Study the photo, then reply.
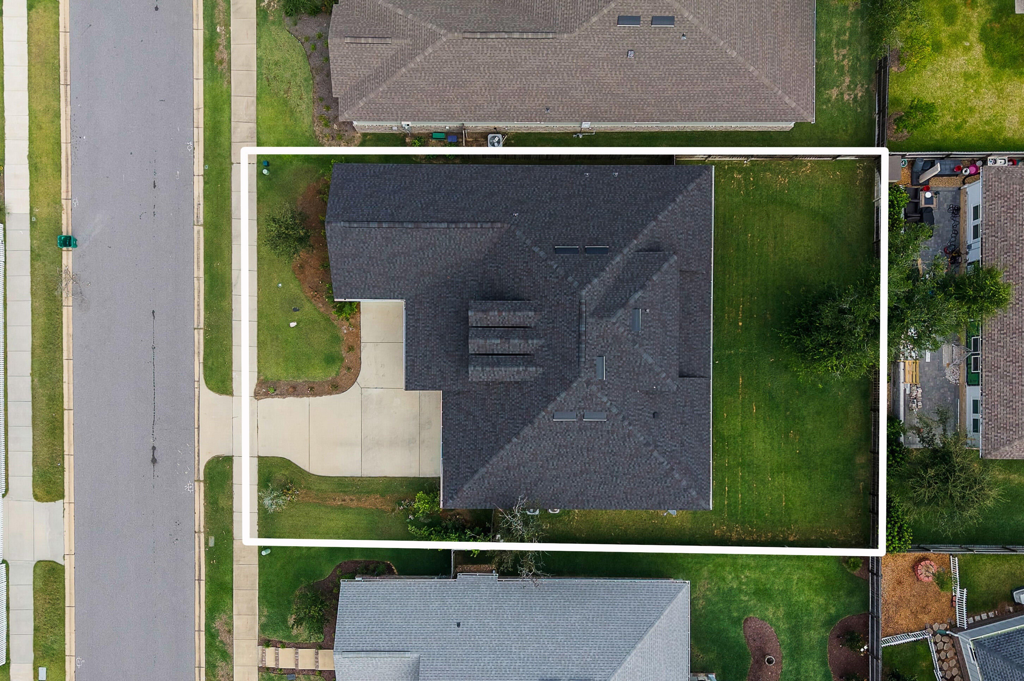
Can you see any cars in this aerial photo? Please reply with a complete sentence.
No, no car is visible in the view.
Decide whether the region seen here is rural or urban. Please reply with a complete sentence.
From above, the setting appears urban.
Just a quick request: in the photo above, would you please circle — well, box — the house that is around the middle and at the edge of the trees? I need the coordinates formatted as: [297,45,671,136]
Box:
[326,163,714,511]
